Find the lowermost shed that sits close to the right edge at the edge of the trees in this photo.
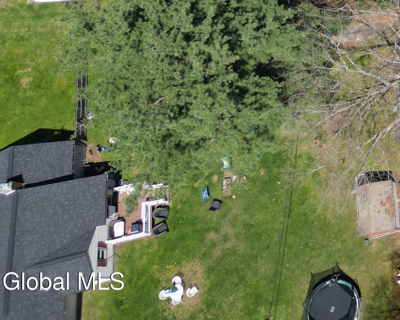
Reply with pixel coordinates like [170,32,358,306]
[356,178,400,240]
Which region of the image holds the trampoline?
bottom right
